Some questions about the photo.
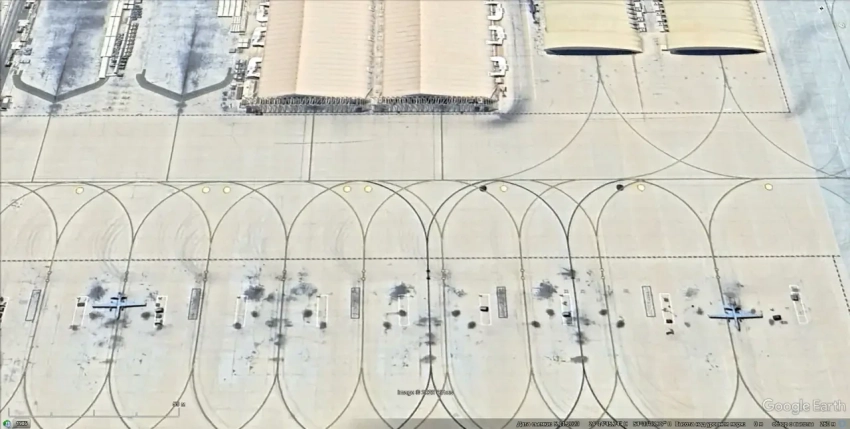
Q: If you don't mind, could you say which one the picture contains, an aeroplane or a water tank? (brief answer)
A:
aeroplane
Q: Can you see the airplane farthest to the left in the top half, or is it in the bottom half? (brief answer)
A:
bottom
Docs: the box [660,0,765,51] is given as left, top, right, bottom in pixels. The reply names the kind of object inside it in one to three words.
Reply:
hangar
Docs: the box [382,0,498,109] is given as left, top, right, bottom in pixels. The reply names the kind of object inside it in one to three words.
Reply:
hangar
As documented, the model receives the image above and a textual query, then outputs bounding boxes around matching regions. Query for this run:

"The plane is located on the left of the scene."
[90,290,147,319]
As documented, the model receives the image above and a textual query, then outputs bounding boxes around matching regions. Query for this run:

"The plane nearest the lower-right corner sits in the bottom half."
[709,303,764,331]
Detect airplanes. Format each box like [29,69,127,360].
[709,303,764,331]
[90,290,147,319]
